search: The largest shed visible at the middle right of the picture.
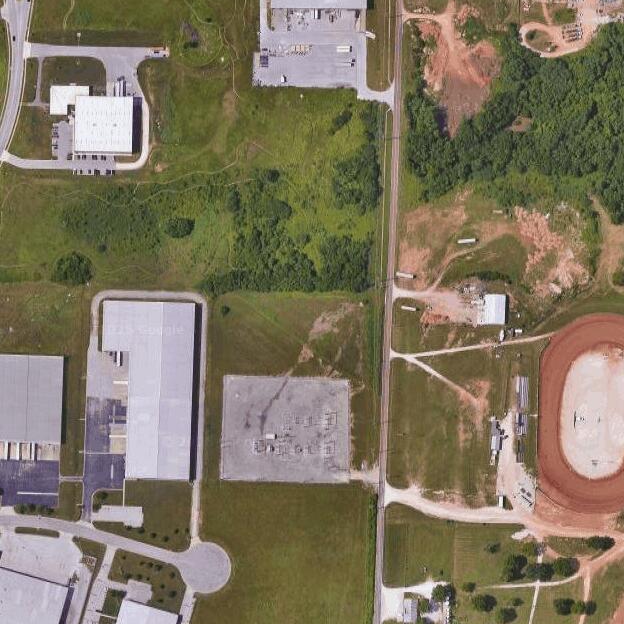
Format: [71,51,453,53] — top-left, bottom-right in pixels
[483,294,506,325]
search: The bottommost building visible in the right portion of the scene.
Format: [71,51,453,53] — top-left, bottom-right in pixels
[403,599,418,624]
